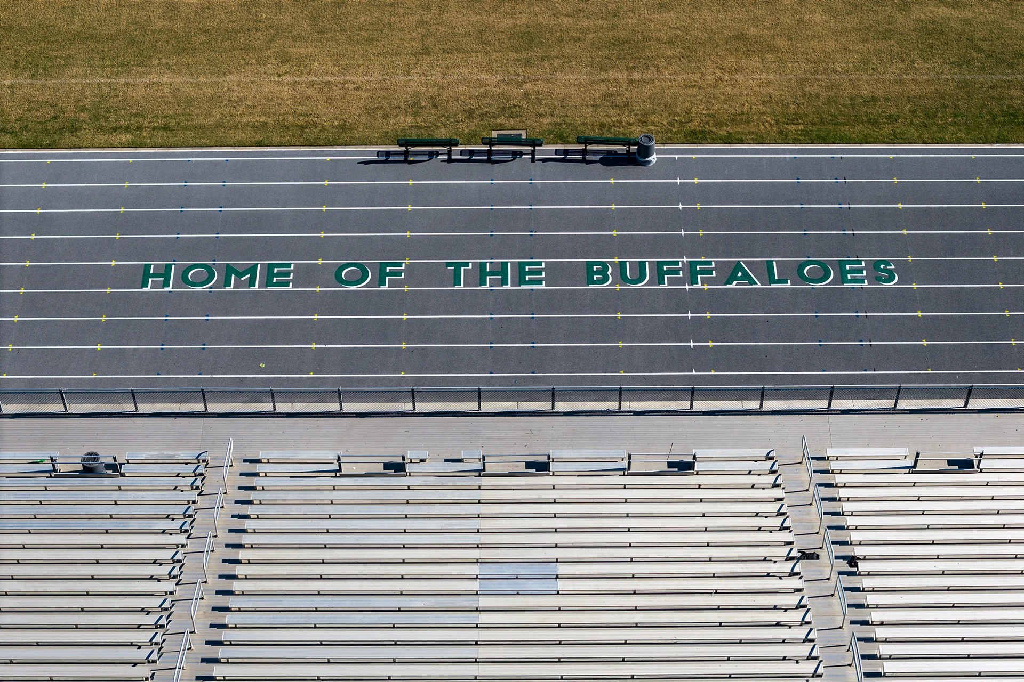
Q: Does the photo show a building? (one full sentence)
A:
No, I can't see a single building in this photo.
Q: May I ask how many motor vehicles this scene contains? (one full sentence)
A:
The picture shows no motor vehicles.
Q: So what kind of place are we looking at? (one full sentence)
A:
This image shows a sports ground.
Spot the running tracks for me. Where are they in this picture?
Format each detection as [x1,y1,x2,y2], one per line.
[0,147,1024,404]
